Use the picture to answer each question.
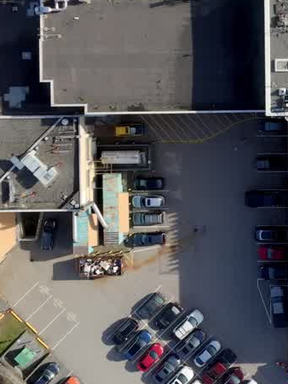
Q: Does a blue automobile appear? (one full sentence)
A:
Yes, there's a blue automobile here.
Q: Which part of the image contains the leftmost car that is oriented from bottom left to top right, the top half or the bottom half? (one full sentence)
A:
You can find the leftmost car that is oriented from bottom left to top right in the bottom half.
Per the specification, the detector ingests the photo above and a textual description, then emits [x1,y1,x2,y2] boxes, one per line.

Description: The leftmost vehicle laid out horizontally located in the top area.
[113,124,146,139]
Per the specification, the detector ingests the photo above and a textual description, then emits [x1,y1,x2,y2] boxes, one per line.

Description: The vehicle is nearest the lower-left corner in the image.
[30,358,60,384]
